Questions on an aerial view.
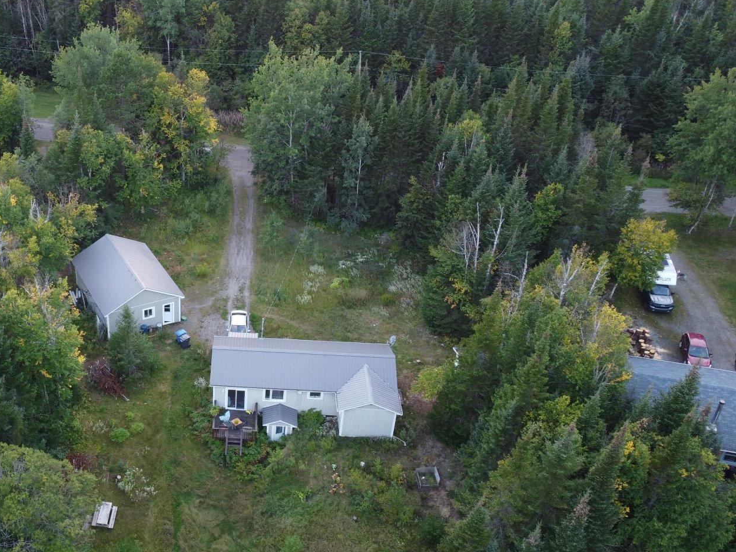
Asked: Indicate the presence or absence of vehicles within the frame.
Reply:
Yes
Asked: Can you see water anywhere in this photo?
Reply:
No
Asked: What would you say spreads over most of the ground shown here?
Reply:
trees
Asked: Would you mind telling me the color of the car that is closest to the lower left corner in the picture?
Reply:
white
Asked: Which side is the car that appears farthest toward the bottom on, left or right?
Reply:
right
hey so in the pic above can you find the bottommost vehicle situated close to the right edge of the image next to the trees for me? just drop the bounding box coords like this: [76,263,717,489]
[671,329,717,368]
